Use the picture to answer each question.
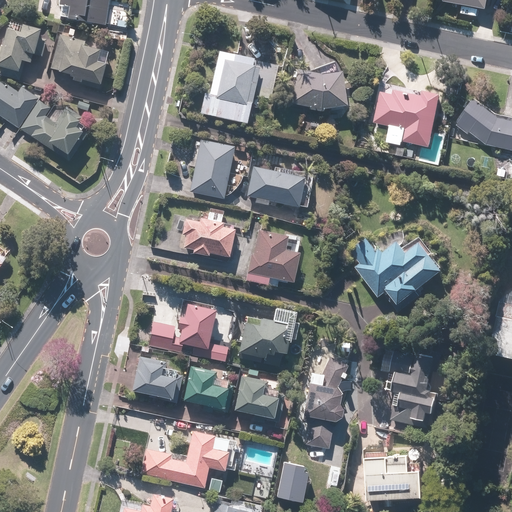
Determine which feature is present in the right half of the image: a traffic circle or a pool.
pool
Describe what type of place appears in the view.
residential area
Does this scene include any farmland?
No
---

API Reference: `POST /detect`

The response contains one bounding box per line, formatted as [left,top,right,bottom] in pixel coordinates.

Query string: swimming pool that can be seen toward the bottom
[245,446,273,466]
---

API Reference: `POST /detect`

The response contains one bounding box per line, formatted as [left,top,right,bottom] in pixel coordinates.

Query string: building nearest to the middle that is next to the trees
[246,228,302,287]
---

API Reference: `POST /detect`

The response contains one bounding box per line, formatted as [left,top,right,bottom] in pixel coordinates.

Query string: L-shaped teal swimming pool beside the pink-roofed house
[420,132,442,162]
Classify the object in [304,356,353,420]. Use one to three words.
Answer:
house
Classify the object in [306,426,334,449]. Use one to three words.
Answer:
building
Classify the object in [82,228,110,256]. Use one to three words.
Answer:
roundabout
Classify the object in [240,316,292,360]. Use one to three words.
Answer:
house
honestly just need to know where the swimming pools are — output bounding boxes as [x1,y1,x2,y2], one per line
[420,132,442,162]
[245,446,273,466]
